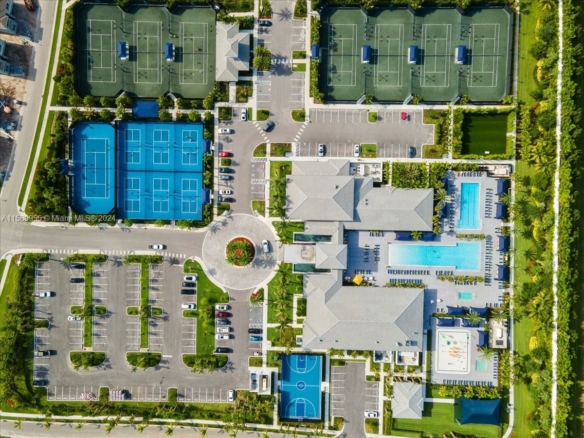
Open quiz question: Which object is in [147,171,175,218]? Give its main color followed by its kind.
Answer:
blue sports court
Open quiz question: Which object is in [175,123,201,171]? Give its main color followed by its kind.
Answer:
blue sports court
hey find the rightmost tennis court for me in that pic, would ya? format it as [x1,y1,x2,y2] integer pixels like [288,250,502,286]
[461,8,510,100]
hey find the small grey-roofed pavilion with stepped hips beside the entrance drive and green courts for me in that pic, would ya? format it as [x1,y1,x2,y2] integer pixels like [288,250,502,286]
[216,22,250,83]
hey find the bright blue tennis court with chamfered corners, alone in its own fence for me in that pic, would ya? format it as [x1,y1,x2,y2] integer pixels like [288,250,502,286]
[72,121,112,214]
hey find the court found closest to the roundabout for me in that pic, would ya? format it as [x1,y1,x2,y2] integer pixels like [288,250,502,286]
[175,171,201,218]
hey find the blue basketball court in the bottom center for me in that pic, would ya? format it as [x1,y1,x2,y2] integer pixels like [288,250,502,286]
[282,357,322,419]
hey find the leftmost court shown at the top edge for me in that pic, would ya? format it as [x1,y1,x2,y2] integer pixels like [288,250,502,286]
[77,3,124,94]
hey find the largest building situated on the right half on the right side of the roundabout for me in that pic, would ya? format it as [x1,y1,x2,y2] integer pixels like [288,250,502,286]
[286,159,434,351]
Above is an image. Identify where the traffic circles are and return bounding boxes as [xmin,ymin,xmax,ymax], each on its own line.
[202,213,278,290]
